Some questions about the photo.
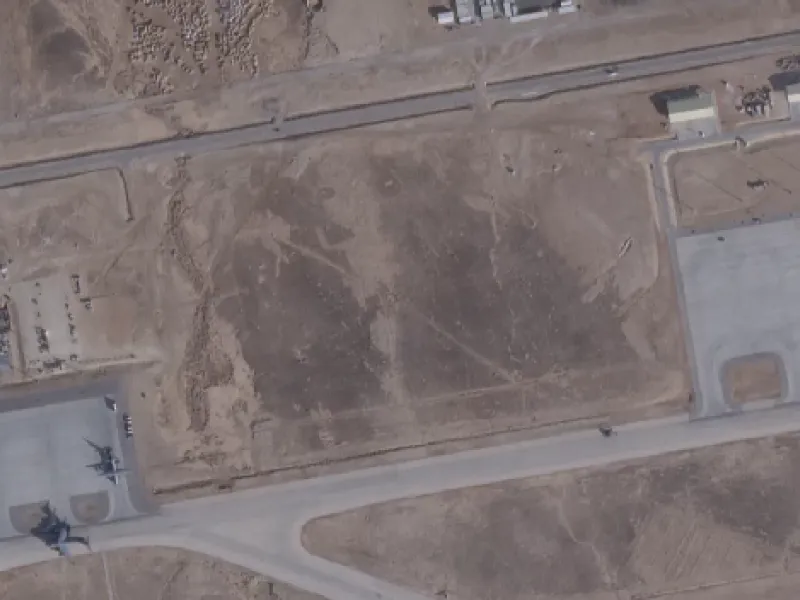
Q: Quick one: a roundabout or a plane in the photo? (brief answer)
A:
plane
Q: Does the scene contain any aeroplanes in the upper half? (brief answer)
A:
No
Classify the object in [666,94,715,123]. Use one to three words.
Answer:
hangar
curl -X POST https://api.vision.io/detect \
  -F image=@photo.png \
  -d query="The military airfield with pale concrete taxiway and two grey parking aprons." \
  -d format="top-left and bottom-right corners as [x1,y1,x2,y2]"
[0,165,800,600]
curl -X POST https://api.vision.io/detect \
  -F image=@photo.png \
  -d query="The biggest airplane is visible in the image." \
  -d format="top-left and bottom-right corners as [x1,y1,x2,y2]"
[36,502,85,560]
